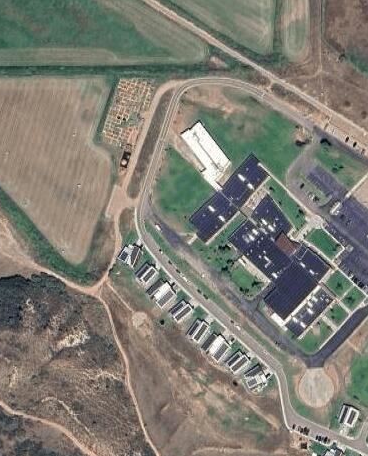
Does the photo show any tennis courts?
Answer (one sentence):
No, the scene contains no tennis court.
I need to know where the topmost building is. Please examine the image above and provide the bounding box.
[181,123,231,191]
